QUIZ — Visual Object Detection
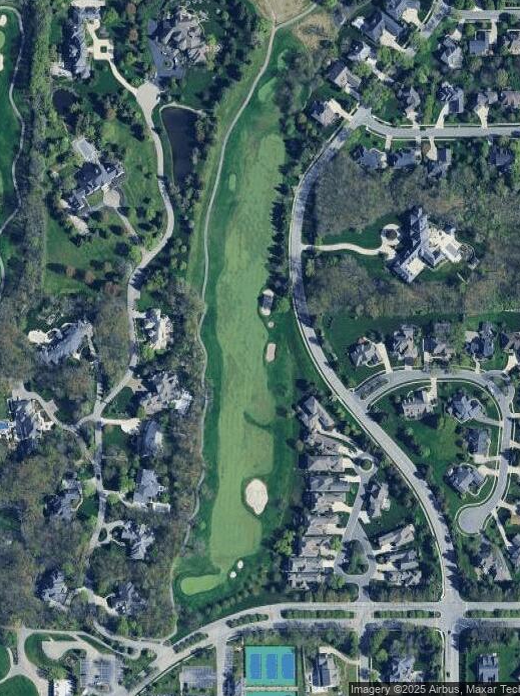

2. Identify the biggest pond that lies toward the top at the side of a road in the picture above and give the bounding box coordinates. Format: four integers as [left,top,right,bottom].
[161,106,198,177]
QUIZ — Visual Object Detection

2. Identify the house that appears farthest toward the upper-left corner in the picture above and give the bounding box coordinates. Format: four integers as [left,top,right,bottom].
[69,6,102,79]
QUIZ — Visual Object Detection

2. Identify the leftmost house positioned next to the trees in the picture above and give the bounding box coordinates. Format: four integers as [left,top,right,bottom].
[10,394,46,438]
